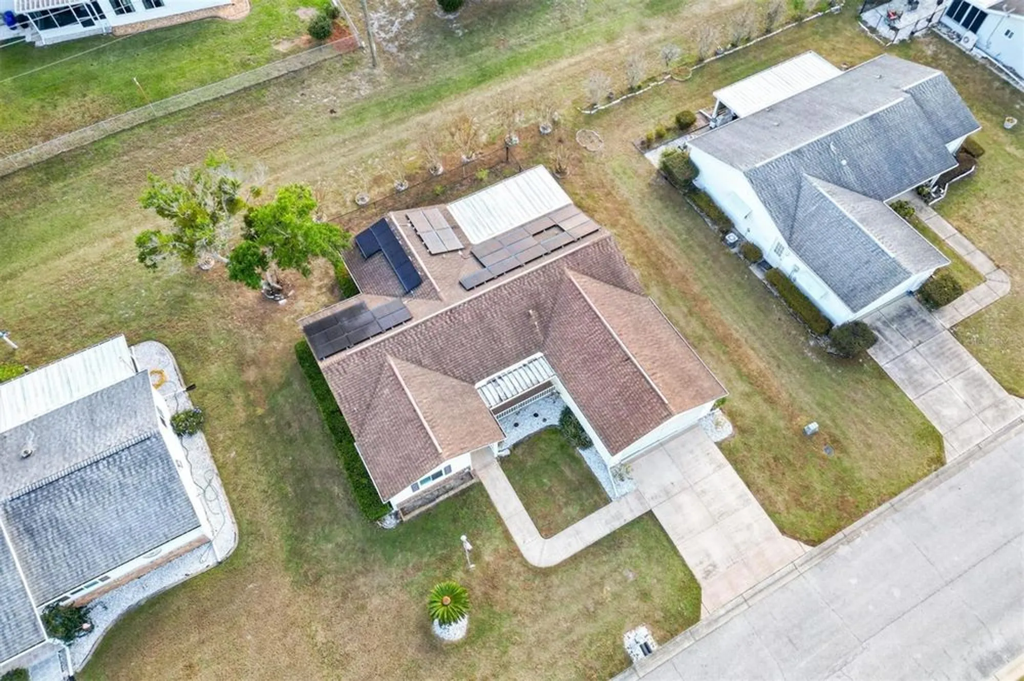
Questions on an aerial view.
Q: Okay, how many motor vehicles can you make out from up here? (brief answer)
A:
0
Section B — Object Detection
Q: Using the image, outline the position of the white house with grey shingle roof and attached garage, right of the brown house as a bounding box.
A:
[689,51,983,324]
